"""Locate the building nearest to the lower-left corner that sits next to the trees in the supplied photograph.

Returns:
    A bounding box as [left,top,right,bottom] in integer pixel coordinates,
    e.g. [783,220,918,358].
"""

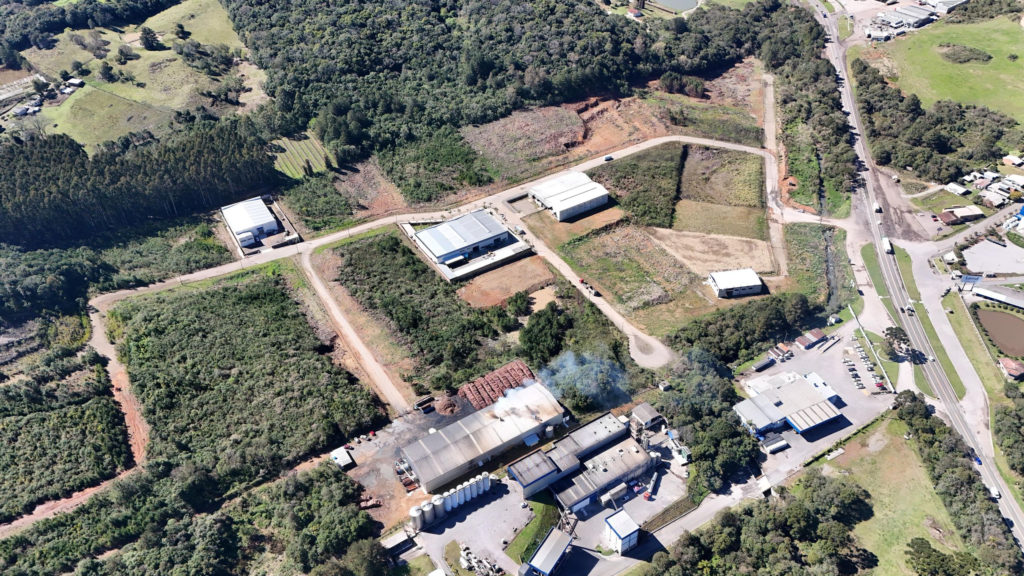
[330,445,353,467]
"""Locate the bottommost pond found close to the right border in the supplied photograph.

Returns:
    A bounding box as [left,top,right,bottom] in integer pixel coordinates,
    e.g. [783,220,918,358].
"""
[978,310,1024,356]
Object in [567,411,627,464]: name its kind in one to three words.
building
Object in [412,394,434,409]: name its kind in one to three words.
vehicle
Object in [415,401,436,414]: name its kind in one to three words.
vehicle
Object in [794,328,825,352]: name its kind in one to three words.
shed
